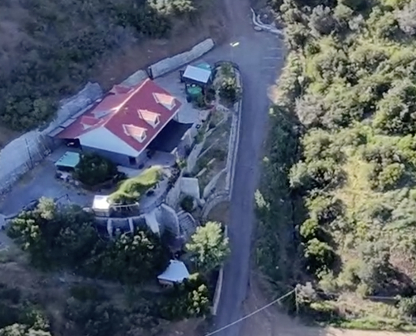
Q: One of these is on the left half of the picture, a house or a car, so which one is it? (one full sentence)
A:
It is a house that can be seen on the left half of the picture.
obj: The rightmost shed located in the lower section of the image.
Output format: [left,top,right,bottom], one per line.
[162,260,189,288]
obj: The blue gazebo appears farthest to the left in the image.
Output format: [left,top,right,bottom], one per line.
[55,151,81,176]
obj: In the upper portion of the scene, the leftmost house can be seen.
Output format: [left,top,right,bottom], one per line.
[60,77,183,167]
